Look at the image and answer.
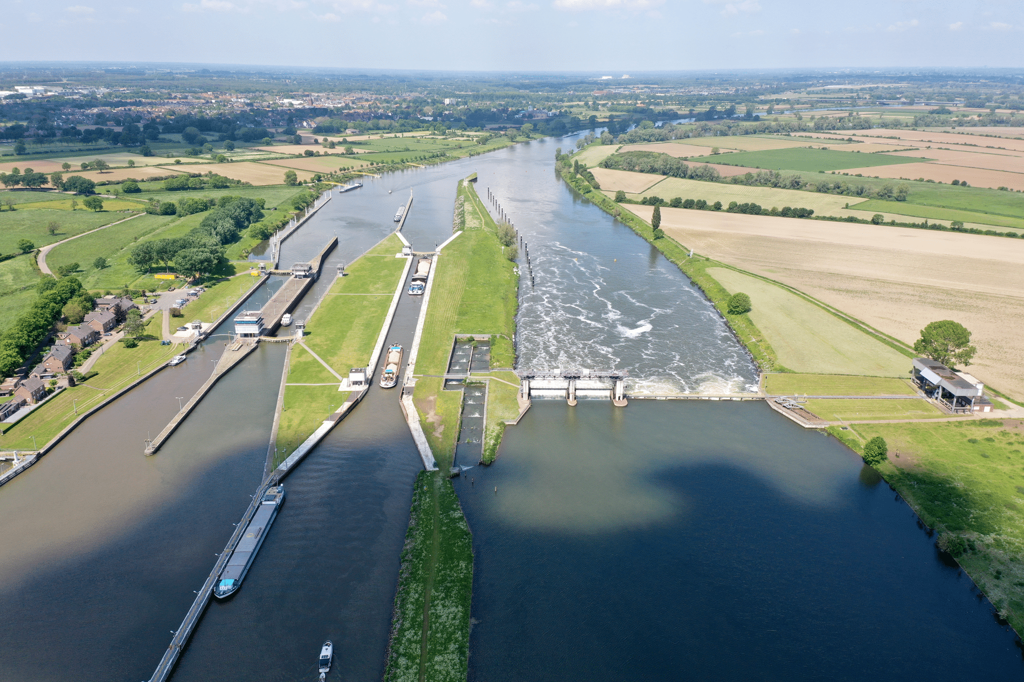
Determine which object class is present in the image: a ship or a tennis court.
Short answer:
ship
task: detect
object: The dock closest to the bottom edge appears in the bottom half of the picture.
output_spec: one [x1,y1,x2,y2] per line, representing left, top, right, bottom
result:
[141,478,272,682]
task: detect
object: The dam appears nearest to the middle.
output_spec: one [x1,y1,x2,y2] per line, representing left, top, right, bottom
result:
[516,370,629,404]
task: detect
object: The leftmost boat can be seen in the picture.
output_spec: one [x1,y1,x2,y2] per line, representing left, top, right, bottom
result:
[167,351,188,365]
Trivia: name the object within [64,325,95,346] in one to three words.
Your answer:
house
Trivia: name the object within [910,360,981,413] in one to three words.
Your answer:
building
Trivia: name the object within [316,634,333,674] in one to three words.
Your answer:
boat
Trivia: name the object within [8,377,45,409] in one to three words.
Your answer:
house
